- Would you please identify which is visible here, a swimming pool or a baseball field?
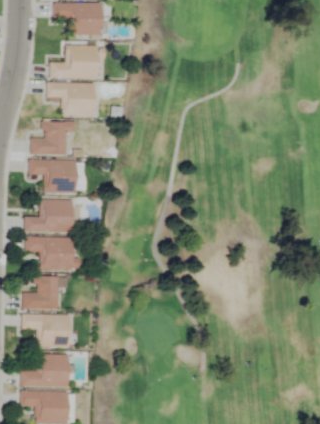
swimming pool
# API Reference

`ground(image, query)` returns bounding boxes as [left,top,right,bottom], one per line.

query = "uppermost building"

[52,2,103,35]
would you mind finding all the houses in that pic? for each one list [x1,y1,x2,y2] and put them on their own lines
[20,314,72,350]
[46,83,98,117]
[24,236,80,273]
[20,392,70,424]
[28,160,76,192]
[20,354,69,388]
[22,278,68,310]
[30,122,75,154]
[24,200,73,232]
[48,45,100,80]
[52,2,103,35]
